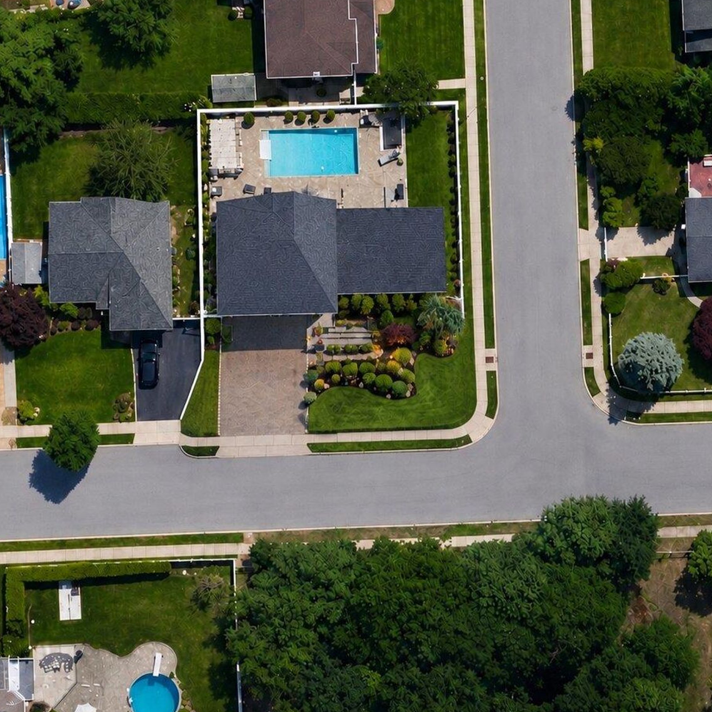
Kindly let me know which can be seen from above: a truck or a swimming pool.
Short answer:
swimming pool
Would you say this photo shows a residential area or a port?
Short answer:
residential area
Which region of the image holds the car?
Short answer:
left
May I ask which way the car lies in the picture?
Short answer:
from top to bottom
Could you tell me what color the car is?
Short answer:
black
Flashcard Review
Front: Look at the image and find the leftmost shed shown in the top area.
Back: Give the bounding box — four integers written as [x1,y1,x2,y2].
[11,242,42,285]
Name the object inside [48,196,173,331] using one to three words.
house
